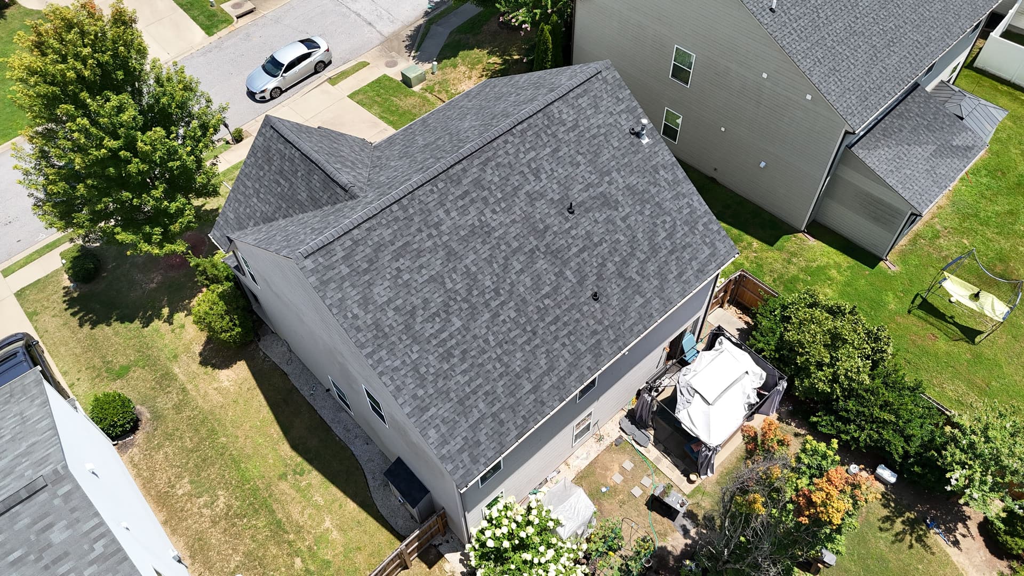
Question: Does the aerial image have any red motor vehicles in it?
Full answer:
No, I find no red motor vehicle anywhere in the image.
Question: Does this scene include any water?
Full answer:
No, water can't be seen anywhere here.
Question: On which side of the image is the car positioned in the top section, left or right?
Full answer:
The car positioned in the top section sits on the left side.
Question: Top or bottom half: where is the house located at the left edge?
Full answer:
The bottom half of the photo is where the house located at the left edge is.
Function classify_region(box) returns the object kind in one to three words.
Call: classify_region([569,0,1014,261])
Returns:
house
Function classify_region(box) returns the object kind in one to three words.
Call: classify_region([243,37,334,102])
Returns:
car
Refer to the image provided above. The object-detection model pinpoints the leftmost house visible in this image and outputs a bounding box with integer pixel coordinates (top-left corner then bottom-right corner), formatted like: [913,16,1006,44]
[0,365,192,576]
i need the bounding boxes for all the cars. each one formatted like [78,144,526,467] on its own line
[0,333,68,400]
[243,37,334,102]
